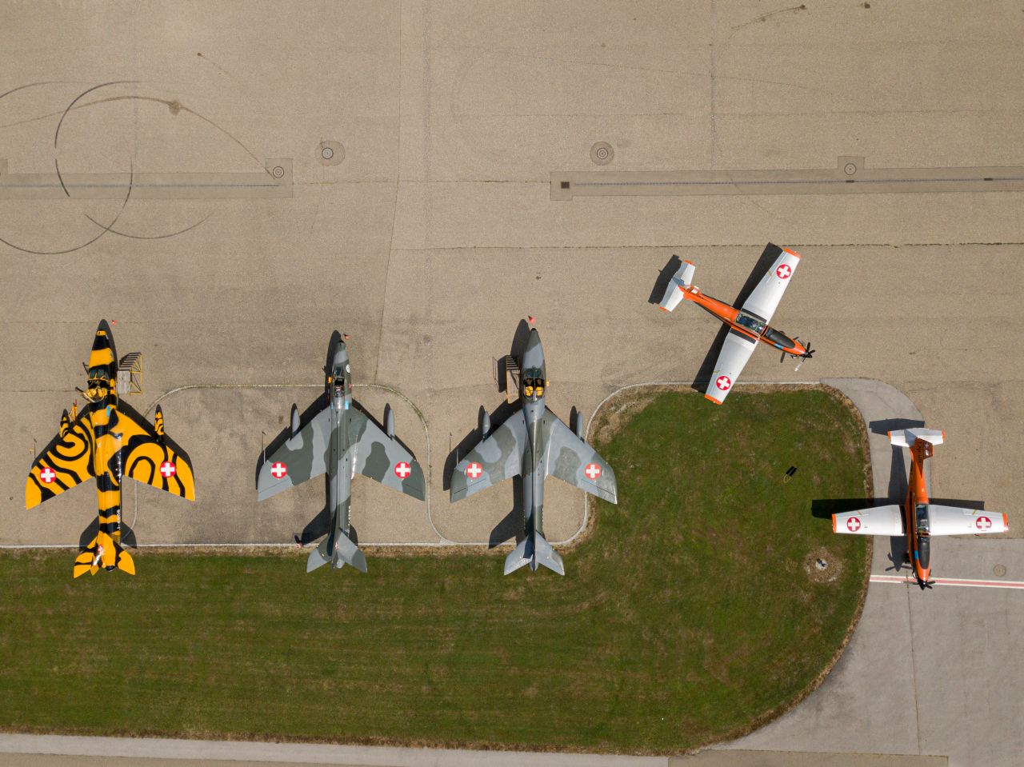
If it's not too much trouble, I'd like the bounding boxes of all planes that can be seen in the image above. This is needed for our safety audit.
[833,427,1005,591]
[658,247,818,404]
[450,327,618,575]
[27,330,195,579]
[258,339,426,573]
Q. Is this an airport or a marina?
airport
